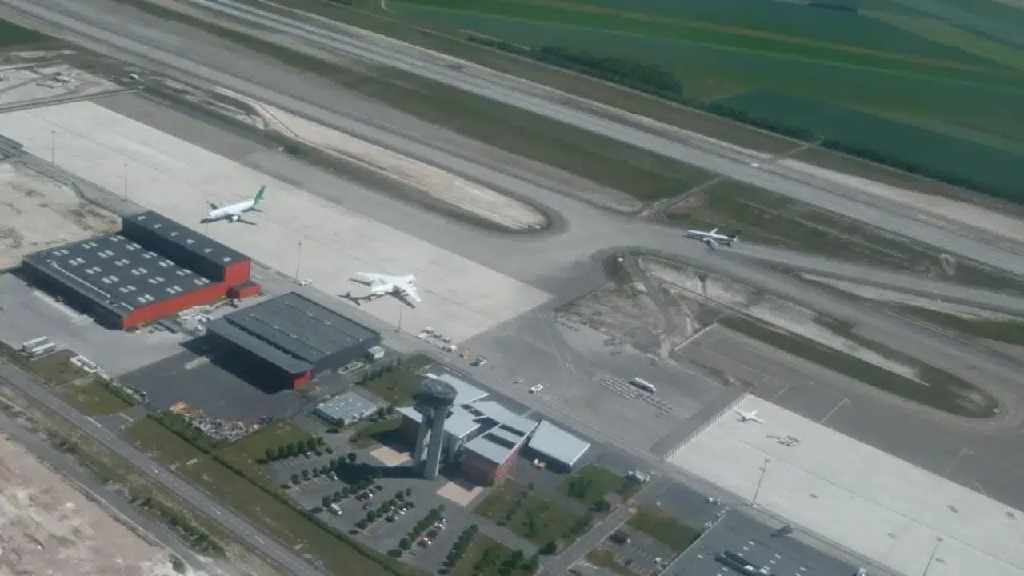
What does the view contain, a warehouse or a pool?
warehouse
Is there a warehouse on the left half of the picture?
Yes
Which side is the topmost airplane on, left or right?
left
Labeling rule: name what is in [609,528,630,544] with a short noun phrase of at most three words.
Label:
vehicle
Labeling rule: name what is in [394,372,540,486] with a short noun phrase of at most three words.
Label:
building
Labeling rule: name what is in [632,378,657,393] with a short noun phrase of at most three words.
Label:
vehicle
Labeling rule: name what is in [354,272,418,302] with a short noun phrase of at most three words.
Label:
airplane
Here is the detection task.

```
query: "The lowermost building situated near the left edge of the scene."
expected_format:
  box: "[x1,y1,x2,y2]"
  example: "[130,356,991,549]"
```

[24,209,250,331]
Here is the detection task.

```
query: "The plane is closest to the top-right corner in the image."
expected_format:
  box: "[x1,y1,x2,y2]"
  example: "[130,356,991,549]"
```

[684,228,740,246]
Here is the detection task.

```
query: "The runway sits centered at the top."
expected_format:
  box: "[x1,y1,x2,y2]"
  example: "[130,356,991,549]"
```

[198,0,1024,274]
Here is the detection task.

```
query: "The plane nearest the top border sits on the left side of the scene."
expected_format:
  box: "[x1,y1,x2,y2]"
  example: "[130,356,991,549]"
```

[206,186,265,221]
